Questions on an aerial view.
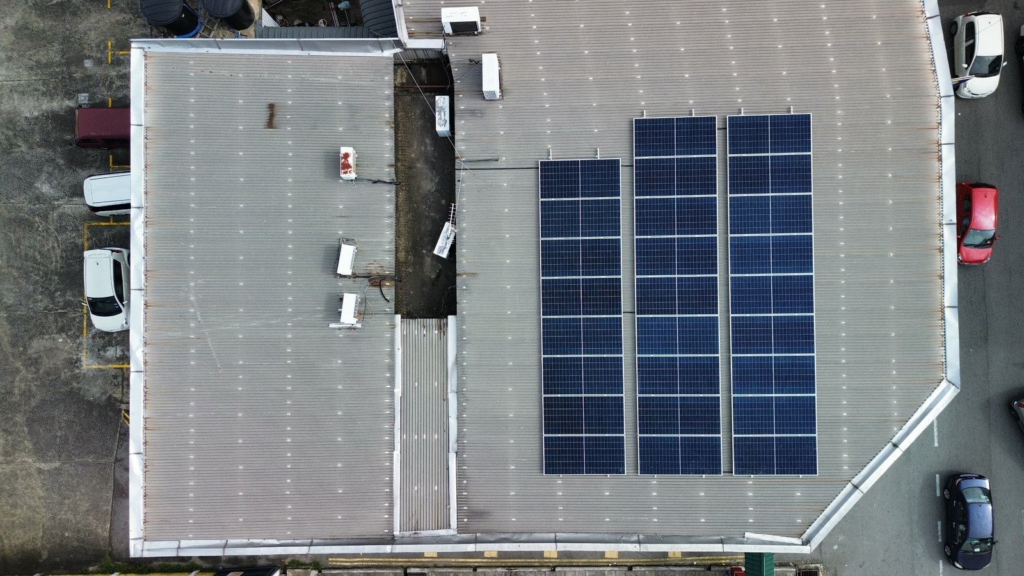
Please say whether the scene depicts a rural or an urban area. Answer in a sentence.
From above, the setting appears urban.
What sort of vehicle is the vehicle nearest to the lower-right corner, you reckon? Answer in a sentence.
Specifically, the vehicle nearest to the lower-right corner is a car.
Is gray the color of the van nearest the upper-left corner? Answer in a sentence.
No, the van nearest the upper-left corner is red.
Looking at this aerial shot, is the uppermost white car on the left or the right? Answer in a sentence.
You can find the uppermost white car on the right side of the picture.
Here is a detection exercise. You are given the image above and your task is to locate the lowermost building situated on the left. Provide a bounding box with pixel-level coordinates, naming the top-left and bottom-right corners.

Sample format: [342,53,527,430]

[130,39,408,556]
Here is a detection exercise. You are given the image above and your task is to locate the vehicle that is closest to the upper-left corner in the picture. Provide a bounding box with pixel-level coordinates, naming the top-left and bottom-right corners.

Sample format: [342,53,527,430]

[75,108,131,151]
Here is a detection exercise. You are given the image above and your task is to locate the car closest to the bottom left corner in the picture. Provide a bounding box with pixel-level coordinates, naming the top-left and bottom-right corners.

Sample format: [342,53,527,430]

[82,249,131,332]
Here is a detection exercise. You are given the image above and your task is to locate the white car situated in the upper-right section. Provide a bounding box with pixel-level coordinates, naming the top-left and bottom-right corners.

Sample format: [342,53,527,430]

[948,12,1005,101]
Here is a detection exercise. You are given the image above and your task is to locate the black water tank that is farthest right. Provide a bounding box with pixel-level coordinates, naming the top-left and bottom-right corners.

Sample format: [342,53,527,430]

[199,0,255,29]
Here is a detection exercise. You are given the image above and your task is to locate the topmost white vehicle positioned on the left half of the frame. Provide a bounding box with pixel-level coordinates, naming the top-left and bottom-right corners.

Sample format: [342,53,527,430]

[83,170,131,217]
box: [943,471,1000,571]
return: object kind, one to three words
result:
car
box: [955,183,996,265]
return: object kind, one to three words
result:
car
